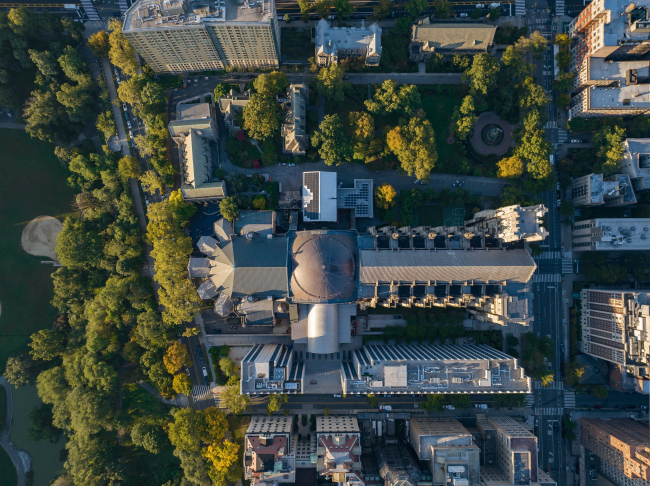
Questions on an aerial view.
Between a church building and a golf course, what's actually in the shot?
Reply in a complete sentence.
The one in the frame is a church building.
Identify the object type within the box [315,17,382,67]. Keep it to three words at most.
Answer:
house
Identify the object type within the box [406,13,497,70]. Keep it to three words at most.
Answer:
building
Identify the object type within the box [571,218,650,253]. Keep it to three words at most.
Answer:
building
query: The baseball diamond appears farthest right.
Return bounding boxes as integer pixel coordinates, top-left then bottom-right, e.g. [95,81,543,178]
[22,216,60,258]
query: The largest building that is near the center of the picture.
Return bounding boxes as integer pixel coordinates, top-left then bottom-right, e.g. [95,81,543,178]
[188,206,545,352]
